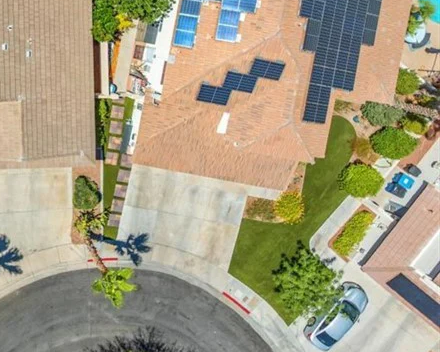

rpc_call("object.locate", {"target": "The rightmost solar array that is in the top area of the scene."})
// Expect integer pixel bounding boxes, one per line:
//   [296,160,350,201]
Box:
[299,0,385,123]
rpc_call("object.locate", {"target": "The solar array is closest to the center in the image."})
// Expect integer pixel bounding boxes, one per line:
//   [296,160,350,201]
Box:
[197,58,286,106]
